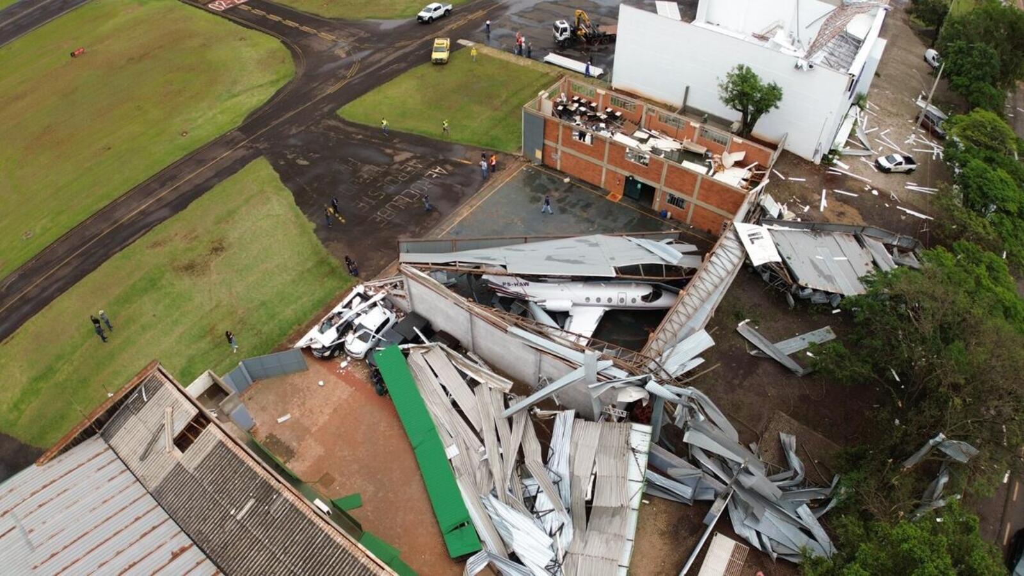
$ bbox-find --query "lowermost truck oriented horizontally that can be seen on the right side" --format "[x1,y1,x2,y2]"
[871,151,930,175]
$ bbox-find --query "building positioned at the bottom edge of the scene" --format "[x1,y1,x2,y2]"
[0,358,405,576]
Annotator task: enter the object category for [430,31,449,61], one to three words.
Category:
vehicle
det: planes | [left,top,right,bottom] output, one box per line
[531,303,558,334]
[471,269,678,356]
